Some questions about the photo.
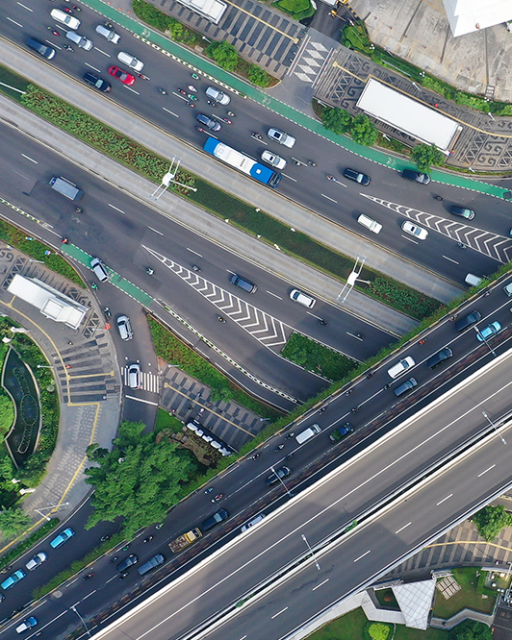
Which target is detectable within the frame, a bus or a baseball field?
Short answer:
bus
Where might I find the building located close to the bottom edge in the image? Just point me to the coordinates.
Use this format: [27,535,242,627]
[392,578,440,630]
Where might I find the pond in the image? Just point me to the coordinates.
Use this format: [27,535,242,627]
[5,349,41,467]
